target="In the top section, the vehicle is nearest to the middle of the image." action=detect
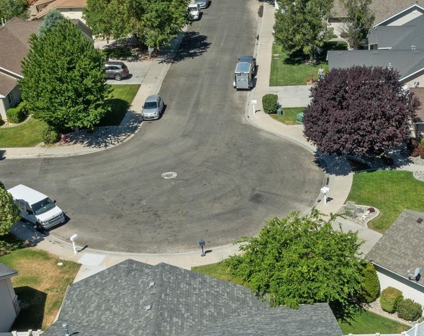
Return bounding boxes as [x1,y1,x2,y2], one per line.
[141,96,164,118]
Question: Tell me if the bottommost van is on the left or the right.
left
